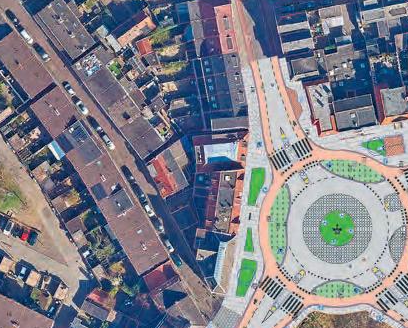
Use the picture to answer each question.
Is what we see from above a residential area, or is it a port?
residential area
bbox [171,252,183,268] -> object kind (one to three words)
vehicle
